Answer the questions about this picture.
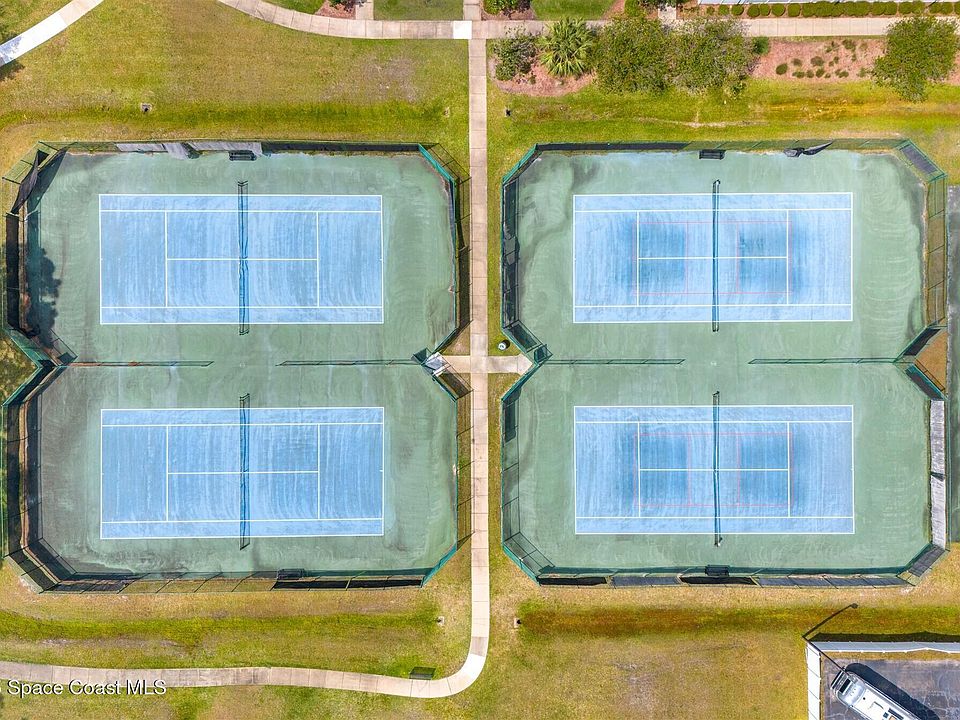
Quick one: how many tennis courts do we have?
4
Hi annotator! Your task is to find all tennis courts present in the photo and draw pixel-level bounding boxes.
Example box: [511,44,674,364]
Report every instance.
[505,364,927,575]
[27,156,453,364]
[504,154,924,364]
[27,364,455,578]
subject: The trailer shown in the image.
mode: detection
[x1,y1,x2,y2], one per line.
[830,668,922,720]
